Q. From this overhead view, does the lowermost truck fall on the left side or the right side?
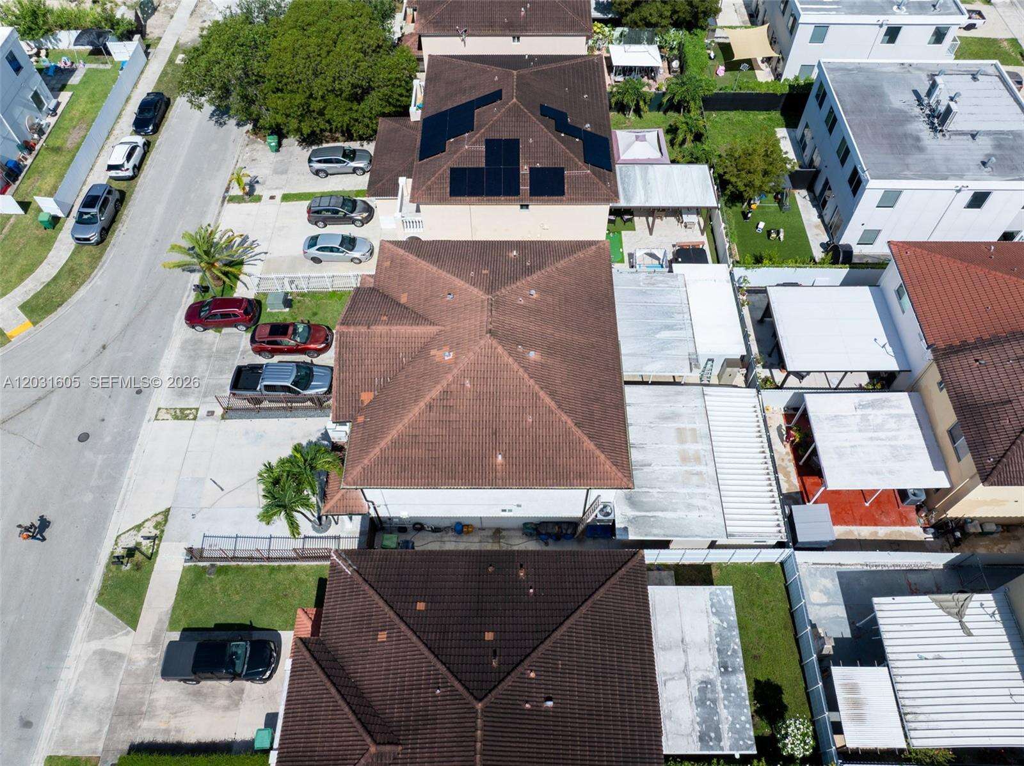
left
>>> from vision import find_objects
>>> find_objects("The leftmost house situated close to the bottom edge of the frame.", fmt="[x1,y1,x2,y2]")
[273,547,665,766]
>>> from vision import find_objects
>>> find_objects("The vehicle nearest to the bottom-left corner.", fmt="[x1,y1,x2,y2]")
[160,631,283,684]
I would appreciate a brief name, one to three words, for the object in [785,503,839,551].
shed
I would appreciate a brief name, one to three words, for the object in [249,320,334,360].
car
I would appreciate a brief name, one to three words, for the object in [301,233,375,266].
car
